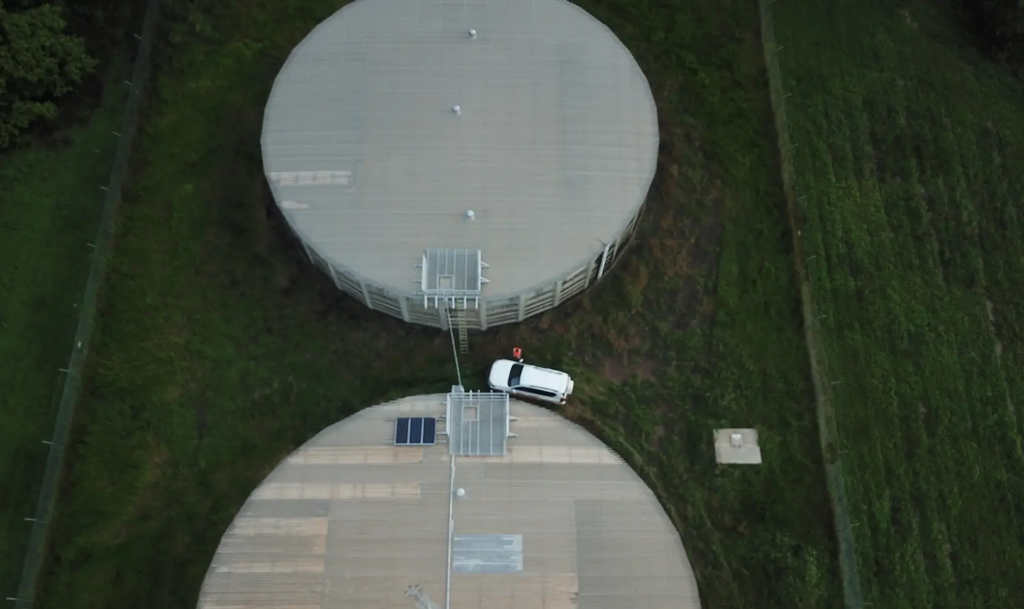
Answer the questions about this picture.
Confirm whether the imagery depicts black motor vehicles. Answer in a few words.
No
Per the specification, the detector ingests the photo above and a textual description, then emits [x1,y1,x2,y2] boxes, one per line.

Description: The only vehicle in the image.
[488,359,572,407]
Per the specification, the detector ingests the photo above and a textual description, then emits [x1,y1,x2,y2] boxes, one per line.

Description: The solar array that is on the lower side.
[387,417,446,446]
